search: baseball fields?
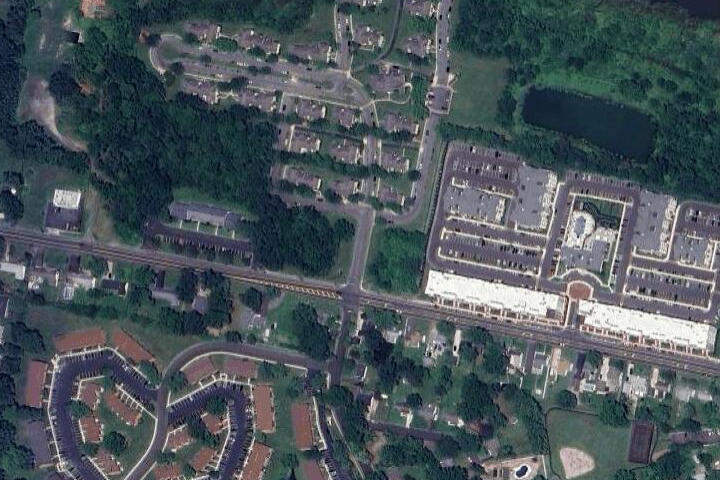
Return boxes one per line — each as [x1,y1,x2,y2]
[550,411,627,480]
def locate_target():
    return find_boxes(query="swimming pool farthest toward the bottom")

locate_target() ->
[482,456,541,480]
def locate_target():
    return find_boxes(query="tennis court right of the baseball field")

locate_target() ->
[627,420,656,464]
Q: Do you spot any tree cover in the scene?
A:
Yes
